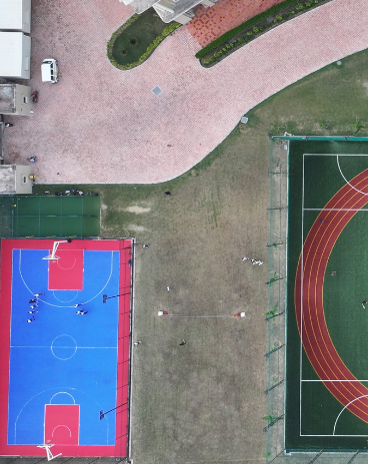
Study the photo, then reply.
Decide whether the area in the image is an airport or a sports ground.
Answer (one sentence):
The picture captures a sports ground.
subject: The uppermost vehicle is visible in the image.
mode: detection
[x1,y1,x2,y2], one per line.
[40,59,58,84]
